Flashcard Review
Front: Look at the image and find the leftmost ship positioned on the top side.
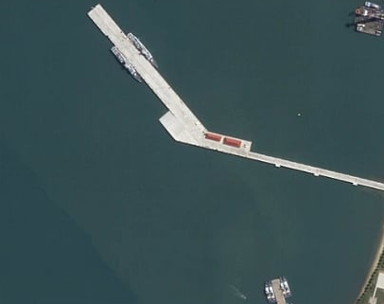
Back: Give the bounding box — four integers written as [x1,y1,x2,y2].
[110,47,141,82]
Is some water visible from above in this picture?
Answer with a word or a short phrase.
Yes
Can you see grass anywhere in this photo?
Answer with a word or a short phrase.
No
